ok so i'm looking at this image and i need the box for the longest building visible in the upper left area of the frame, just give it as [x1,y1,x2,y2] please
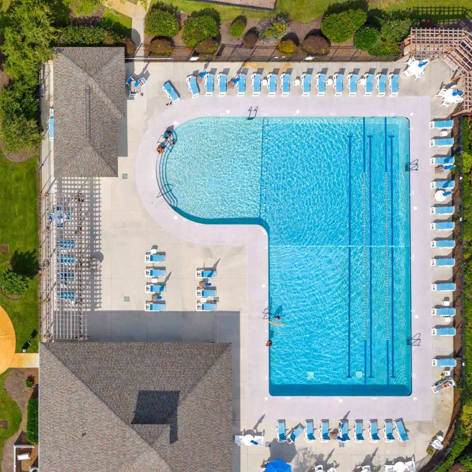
[52,46,122,177]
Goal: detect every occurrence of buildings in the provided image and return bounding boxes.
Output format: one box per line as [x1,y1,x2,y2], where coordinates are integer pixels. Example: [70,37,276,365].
[52,46,122,177]
[38,342,234,472]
